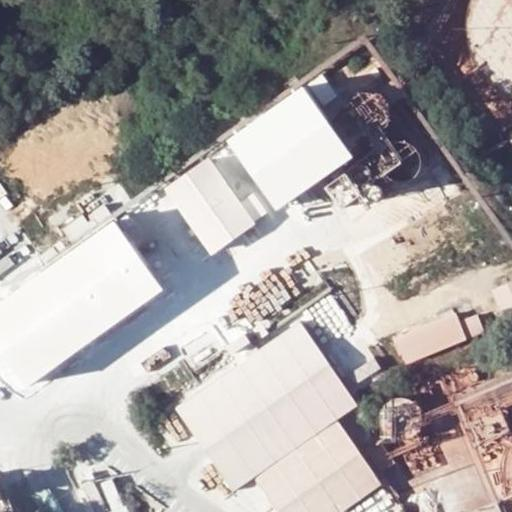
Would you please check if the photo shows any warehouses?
Yes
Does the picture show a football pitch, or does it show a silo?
silo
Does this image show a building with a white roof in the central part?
Yes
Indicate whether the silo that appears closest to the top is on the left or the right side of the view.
right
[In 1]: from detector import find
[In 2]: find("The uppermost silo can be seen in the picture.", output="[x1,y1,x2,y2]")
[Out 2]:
[350,88,396,143]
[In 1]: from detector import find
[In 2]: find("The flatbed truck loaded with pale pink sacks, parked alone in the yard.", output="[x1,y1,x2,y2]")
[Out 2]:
[140,342,178,372]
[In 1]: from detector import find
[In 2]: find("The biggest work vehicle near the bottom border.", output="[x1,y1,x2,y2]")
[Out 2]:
[37,488,55,506]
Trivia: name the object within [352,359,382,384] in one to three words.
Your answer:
shed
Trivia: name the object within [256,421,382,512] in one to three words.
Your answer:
building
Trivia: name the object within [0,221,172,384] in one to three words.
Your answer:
warehouse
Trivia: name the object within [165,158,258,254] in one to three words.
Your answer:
building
